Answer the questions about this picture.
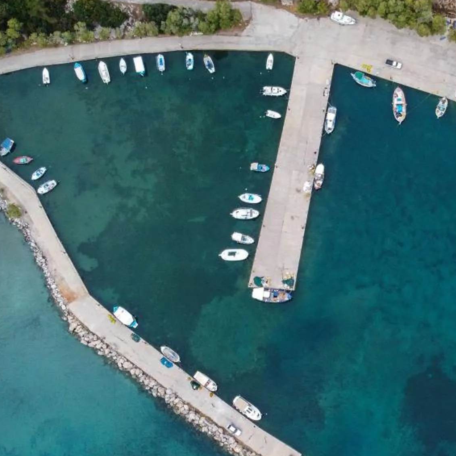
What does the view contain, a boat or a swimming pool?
boat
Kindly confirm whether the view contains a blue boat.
Yes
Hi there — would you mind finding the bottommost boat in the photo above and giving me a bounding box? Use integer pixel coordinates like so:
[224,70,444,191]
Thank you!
[233,396,261,417]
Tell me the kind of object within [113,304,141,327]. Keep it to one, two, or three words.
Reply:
boat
